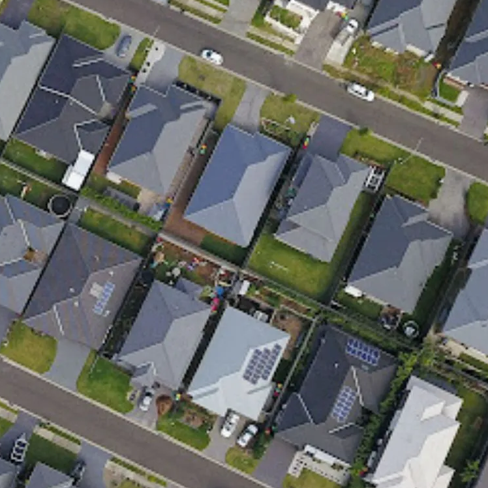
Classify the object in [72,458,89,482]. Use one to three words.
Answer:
car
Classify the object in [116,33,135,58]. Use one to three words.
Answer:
car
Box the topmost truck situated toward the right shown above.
[337,18,361,46]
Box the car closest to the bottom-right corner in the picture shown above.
[240,425,259,448]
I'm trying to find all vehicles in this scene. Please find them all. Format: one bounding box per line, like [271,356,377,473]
[348,82,375,101]
[72,458,89,482]
[240,425,259,448]
[140,386,156,412]
[201,48,225,65]
[116,33,135,58]
[221,411,240,438]
[337,18,361,46]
